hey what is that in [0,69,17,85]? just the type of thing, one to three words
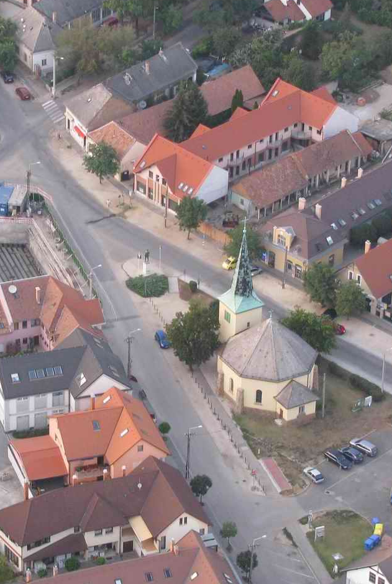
car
